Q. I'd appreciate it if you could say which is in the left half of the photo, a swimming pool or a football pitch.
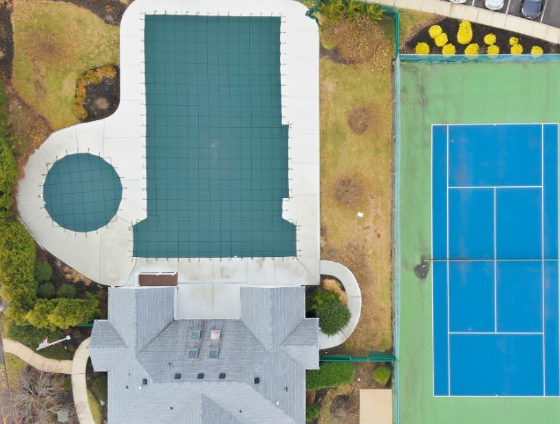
swimming pool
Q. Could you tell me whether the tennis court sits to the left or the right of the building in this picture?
to the right of it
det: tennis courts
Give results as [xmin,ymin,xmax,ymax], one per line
[399,61,560,424]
